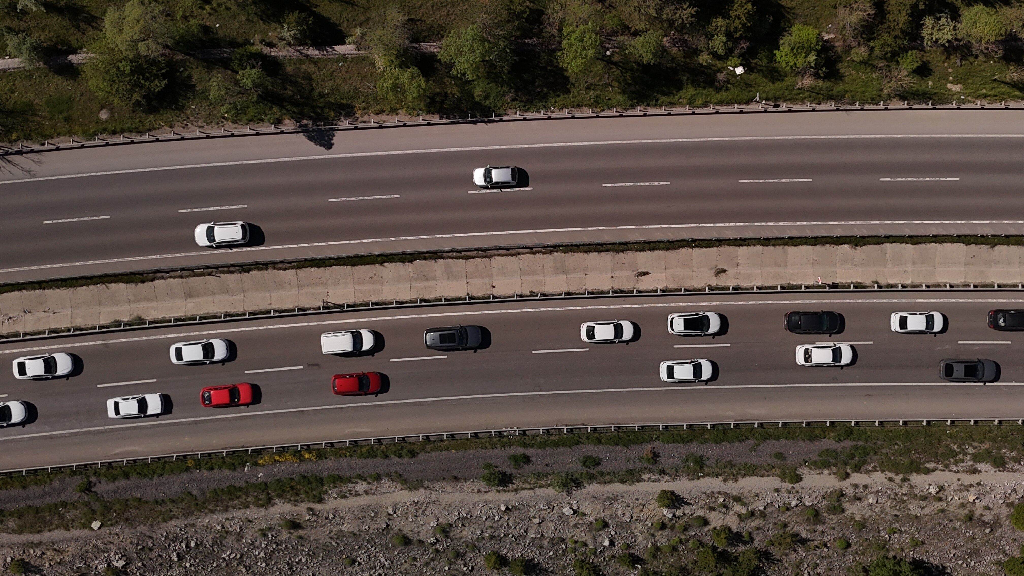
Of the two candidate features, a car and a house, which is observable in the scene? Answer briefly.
car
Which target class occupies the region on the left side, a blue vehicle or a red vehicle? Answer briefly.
red vehicle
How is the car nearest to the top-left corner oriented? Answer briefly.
from left to right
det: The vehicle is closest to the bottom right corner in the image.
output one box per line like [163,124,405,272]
[938,357,995,384]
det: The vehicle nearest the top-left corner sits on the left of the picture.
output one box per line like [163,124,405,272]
[195,220,250,247]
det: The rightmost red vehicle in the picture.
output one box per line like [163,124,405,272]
[332,371,381,396]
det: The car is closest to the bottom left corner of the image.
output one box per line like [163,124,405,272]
[0,399,29,426]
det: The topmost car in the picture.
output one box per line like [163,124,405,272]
[473,164,518,189]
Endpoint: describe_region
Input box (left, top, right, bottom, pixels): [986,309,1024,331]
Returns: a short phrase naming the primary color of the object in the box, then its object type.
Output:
black car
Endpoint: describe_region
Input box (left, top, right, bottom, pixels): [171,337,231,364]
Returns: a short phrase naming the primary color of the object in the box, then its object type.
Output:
white car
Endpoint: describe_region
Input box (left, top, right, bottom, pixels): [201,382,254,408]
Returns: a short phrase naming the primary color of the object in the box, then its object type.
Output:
red car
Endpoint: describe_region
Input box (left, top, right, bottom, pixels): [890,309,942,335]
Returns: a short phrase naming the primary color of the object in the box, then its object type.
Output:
white car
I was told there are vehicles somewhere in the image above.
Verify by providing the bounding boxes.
[201,382,254,408]
[171,337,231,364]
[783,309,839,336]
[321,328,376,354]
[195,220,250,247]
[795,342,852,369]
[659,358,712,384]
[14,351,76,379]
[0,399,29,426]
[667,310,720,337]
[938,357,995,384]
[580,318,634,344]
[108,393,165,418]
[424,323,482,351]
[332,371,381,396]
[473,164,518,189]
[890,309,942,335]
[986,309,1024,331]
